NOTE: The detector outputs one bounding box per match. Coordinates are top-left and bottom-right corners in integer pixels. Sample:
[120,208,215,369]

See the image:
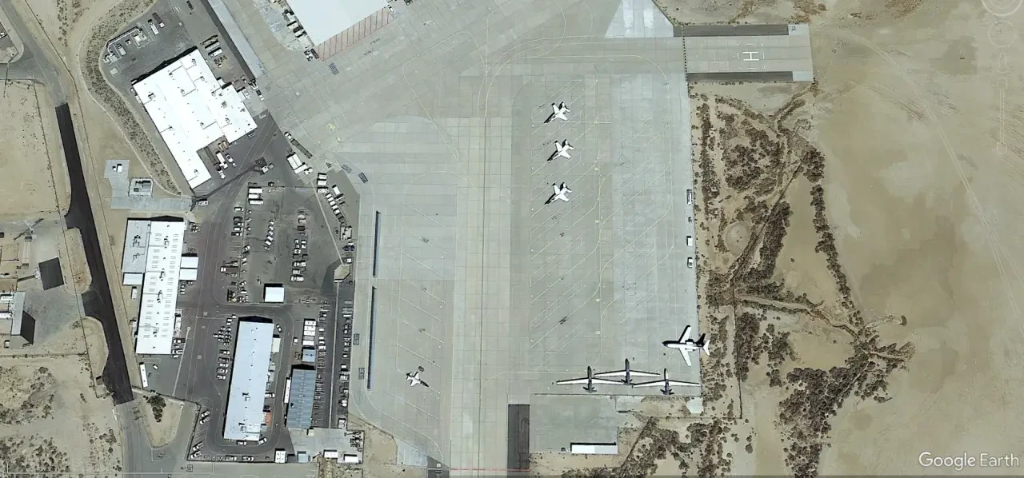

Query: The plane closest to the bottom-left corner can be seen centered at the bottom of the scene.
[406,373,428,387]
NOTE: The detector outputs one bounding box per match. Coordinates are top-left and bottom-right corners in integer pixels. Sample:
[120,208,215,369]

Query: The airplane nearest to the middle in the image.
[545,179,574,203]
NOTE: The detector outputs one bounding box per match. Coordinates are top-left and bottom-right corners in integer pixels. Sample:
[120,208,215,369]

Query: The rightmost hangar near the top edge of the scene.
[286,0,387,45]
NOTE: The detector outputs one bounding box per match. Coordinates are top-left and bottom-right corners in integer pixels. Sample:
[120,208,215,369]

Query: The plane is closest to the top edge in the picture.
[545,98,573,122]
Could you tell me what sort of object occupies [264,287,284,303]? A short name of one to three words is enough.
building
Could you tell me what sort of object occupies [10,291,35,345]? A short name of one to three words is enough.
building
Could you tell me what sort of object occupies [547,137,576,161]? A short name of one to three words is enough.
airplane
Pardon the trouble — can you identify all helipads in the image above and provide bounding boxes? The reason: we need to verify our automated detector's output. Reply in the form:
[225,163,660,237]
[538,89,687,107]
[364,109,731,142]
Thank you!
[674,23,814,82]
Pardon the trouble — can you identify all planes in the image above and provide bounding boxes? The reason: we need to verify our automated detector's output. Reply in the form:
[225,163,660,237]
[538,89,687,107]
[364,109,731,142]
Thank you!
[556,367,623,392]
[664,328,713,368]
[545,179,574,203]
[545,98,573,122]
[594,359,661,384]
[547,137,576,161]
[406,373,428,387]
[633,369,700,394]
